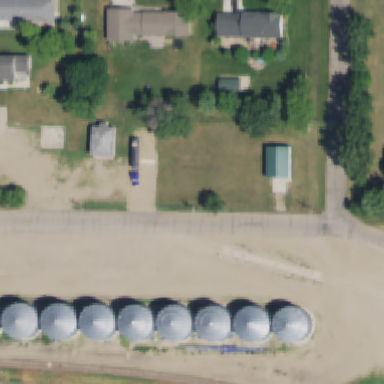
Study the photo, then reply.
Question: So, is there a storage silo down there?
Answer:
Yes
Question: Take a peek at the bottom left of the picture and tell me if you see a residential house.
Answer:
No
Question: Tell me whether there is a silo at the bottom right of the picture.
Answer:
Yes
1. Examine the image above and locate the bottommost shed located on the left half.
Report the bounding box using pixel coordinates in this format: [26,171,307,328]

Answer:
[90,121,115,156]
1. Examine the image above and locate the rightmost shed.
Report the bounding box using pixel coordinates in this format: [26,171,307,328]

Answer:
[265,146,288,178]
